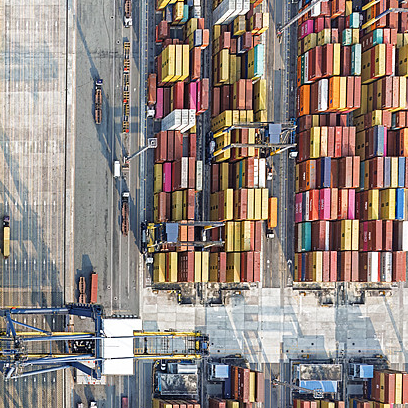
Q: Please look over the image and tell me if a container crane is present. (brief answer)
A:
Yes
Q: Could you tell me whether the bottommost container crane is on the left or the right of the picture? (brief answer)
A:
left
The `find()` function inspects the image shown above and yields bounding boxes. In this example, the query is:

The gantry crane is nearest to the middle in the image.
[140,219,227,254]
